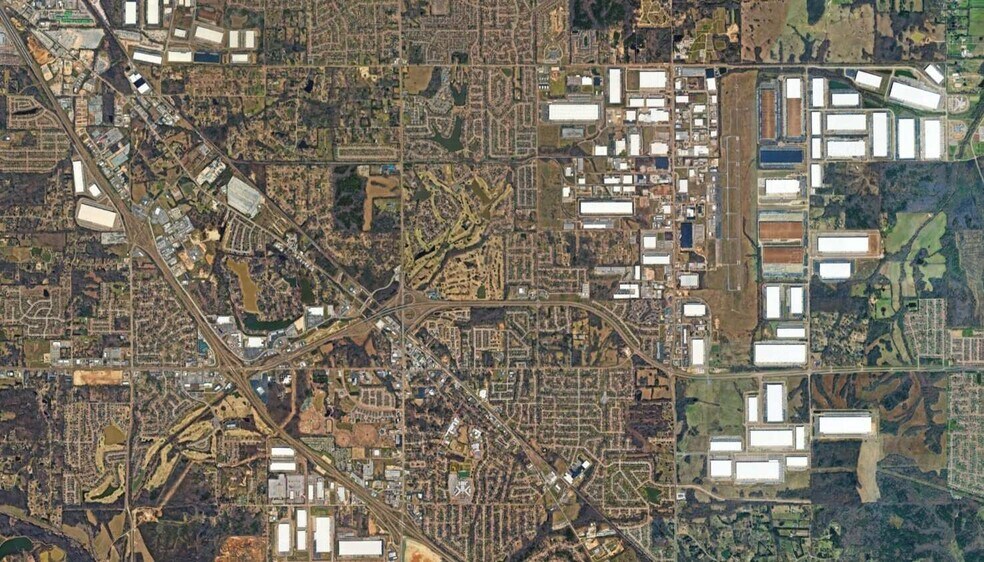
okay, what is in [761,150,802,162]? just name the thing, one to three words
building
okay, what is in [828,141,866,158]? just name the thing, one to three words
building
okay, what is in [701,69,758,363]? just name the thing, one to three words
airport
